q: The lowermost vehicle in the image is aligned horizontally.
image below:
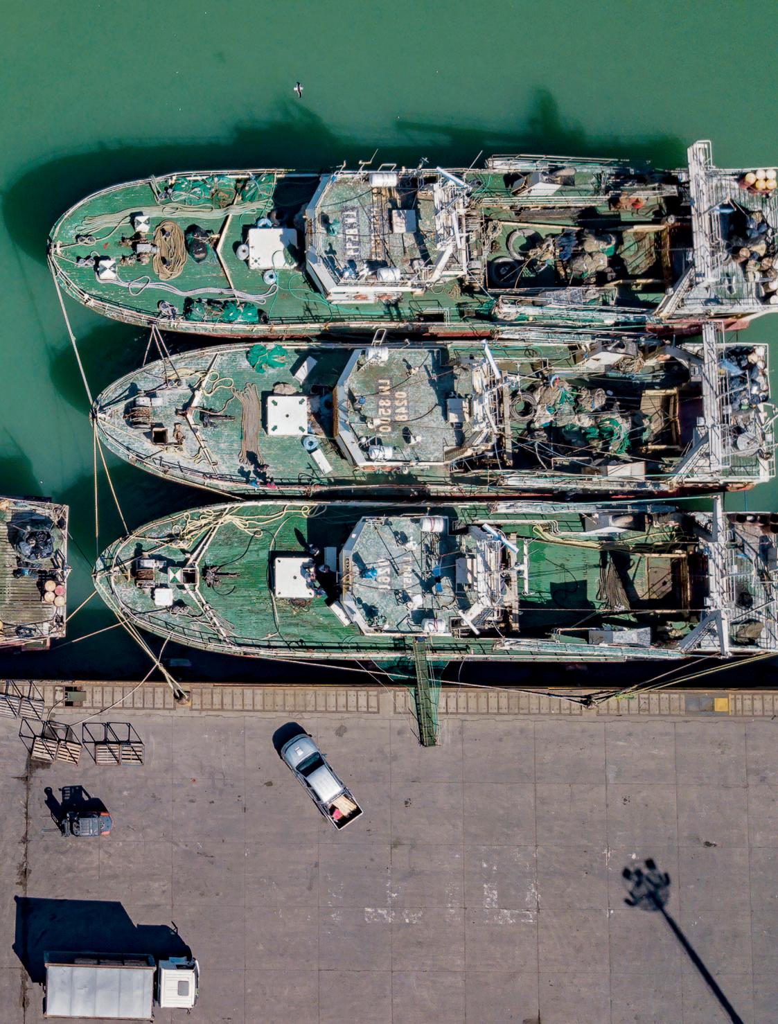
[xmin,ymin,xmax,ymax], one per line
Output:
[44,956,205,1019]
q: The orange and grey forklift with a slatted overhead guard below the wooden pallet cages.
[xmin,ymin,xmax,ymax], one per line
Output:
[43,814,109,840]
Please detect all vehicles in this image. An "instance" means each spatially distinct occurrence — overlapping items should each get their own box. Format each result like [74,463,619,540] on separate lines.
[285,730,364,832]
[44,956,205,1019]
[43,814,109,840]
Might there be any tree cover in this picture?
No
